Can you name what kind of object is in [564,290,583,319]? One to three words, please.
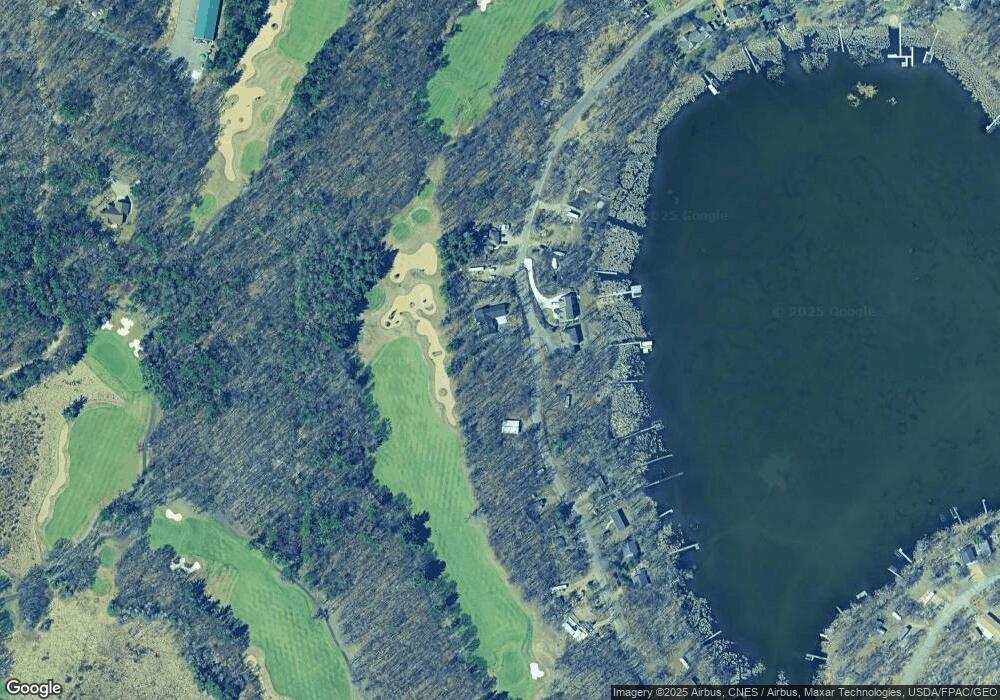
house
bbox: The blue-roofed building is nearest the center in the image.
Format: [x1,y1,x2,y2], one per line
[476,303,511,334]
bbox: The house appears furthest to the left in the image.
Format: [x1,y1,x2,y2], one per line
[103,196,134,225]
